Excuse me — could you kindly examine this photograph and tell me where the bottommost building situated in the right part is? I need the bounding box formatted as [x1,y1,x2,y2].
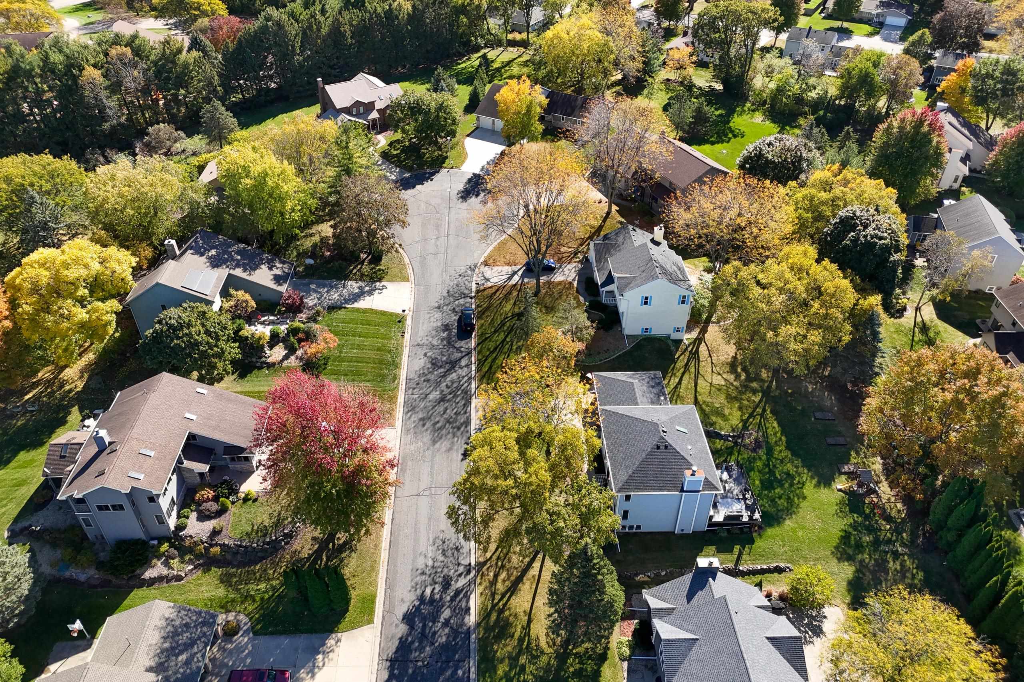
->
[631,548,810,682]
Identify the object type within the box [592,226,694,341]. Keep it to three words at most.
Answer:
house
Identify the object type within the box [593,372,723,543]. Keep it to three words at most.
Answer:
house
